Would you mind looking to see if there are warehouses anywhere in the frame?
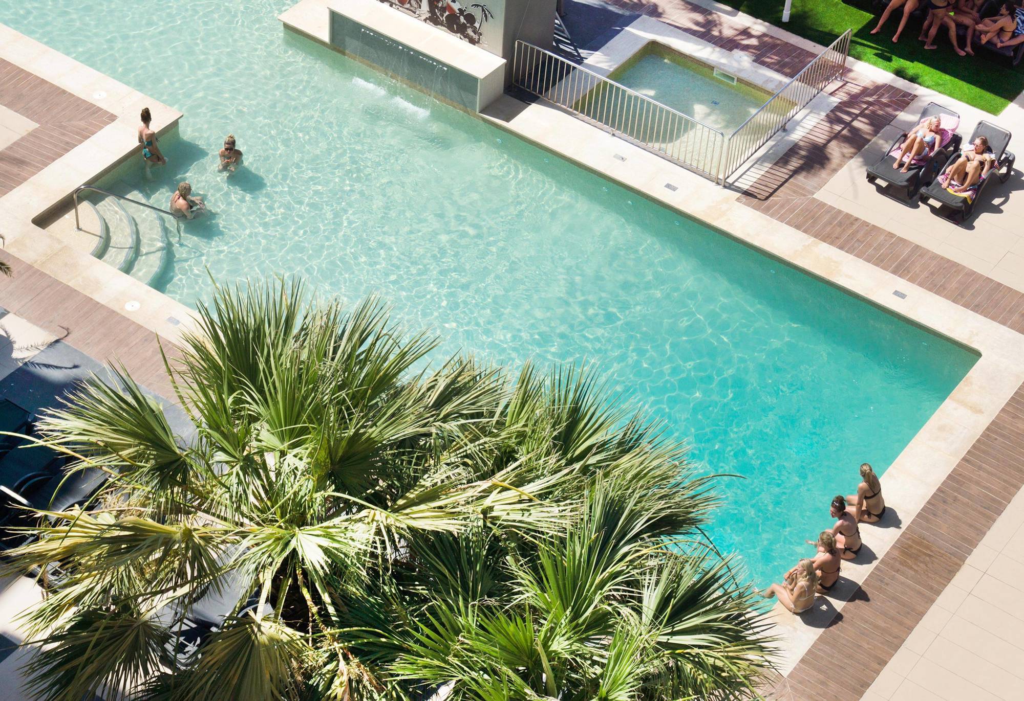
No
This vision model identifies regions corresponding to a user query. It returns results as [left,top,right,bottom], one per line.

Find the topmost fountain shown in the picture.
[327,0,506,120]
